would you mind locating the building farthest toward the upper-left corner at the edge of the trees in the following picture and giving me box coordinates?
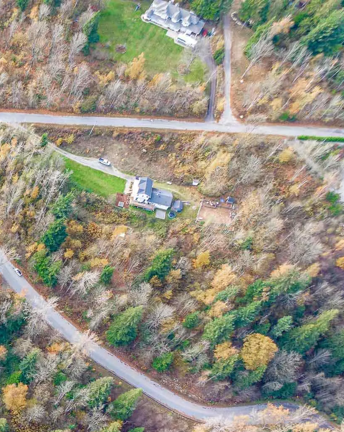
[137,0,206,36]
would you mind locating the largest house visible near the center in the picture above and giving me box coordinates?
[130,171,177,211]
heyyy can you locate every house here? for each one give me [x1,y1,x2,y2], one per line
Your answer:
[130,171,177,211]
[137,0,206,36]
